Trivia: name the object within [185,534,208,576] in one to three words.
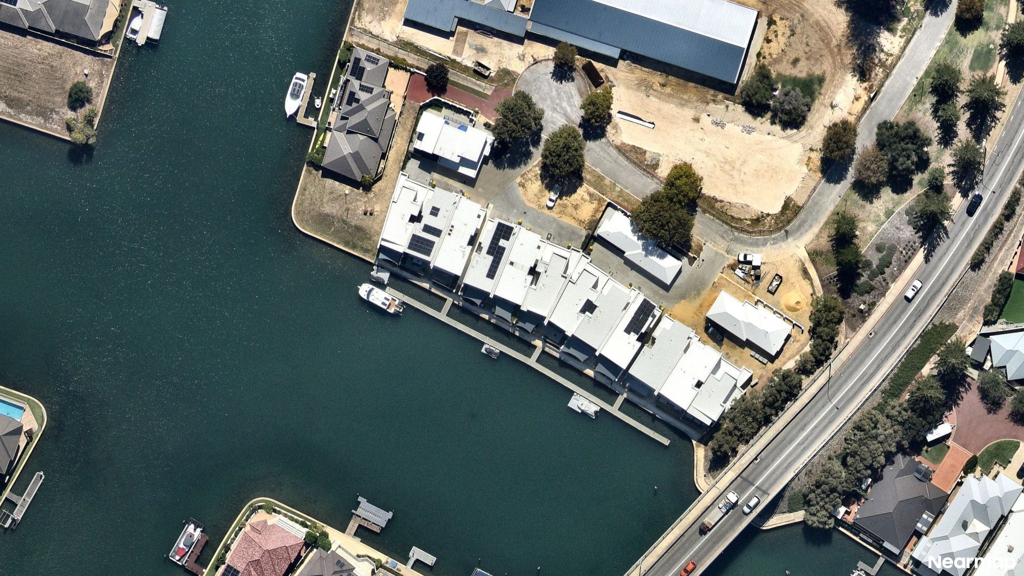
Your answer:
pier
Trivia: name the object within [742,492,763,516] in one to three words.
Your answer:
car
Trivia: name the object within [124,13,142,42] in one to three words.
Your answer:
boat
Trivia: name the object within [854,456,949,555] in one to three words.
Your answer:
house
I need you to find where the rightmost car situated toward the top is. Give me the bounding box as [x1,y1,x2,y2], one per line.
[965,191,985,218]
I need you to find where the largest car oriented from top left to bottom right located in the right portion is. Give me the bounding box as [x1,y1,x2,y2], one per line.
[704,323,727,345]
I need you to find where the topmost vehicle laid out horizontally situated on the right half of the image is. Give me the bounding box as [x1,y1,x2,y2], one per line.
[735,253,762,266]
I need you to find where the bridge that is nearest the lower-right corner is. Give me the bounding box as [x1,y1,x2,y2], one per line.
[625,462,781,576]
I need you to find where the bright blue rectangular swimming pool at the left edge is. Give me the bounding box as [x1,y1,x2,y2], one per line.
[0,397,27,423]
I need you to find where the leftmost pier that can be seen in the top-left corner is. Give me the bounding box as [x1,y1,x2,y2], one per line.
[132,0,156,45]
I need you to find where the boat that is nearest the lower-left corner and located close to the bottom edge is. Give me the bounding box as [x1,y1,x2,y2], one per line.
[177,520,200,555]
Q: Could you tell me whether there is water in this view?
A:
Yes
